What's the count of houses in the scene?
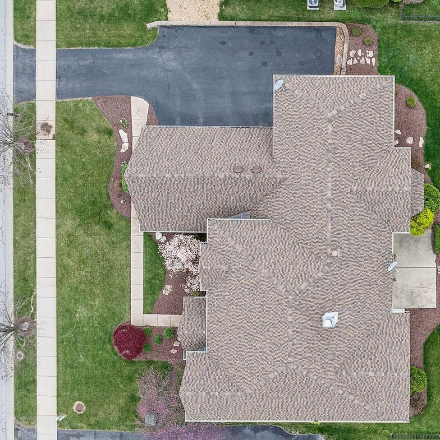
1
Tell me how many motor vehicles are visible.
none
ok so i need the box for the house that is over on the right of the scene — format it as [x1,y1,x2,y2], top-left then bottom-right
[125,74,424,423]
